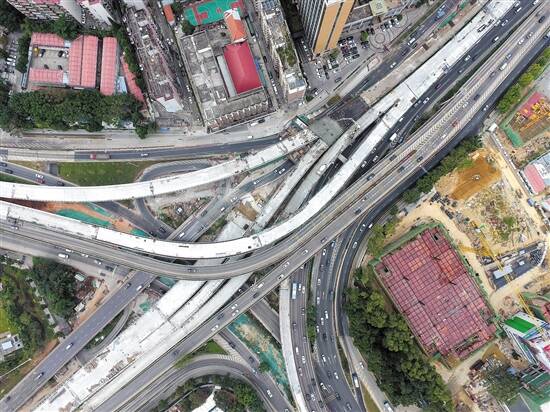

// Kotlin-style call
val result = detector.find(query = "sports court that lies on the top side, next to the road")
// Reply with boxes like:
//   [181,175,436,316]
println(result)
[180,0,248,27]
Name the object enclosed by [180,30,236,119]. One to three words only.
building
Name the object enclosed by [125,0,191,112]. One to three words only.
building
